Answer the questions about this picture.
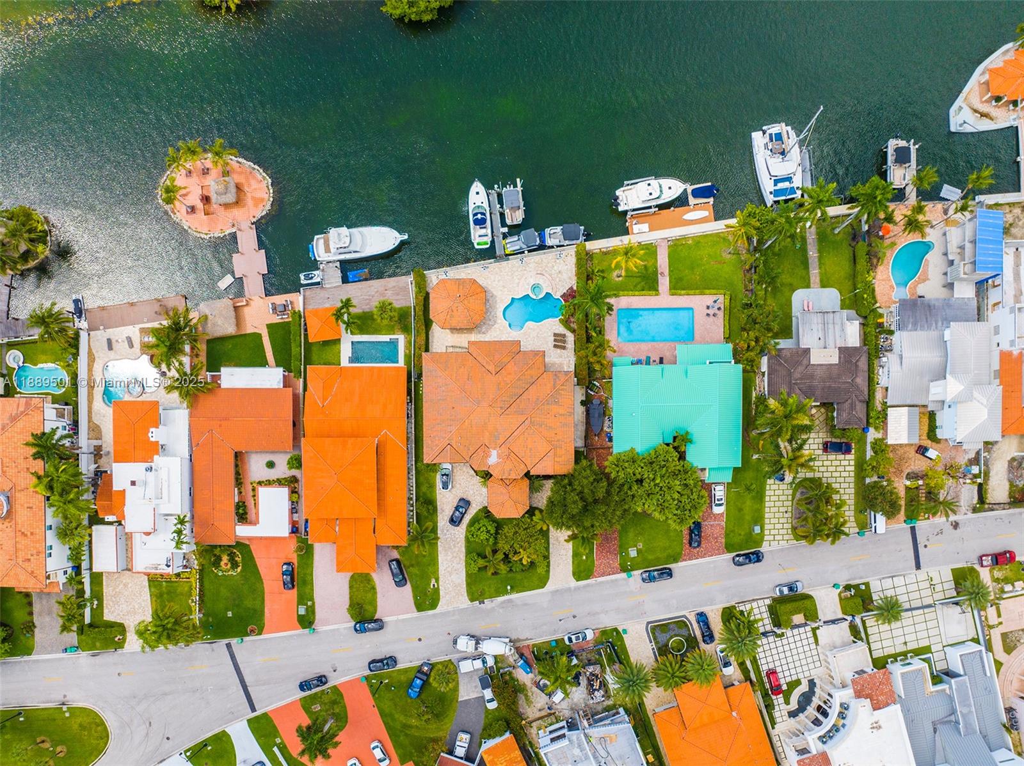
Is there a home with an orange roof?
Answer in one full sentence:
Yes, you can see a home with an orange roof in this photo.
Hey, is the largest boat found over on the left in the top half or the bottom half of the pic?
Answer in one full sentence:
Seen from above, the largest boat found over on the left lies in the top half of the view.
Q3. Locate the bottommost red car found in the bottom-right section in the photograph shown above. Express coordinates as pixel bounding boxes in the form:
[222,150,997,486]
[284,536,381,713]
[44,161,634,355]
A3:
[766,670,784,699]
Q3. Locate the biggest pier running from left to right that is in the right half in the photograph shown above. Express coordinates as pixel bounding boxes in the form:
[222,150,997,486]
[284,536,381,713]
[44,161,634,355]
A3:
[625,201,715,235]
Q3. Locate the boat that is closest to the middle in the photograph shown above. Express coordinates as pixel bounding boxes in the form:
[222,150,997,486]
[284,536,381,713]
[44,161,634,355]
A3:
[588,396,604,441]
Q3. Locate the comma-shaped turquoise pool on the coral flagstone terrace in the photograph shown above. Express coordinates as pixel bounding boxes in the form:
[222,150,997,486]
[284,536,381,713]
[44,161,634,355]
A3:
[888,239,935,301]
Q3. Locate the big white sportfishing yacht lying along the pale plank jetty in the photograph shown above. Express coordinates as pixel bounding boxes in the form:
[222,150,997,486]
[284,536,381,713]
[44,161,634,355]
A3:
[311,225,403,260]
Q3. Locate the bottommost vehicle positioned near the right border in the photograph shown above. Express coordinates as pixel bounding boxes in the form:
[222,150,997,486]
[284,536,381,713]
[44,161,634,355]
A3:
[980,551,1020,568]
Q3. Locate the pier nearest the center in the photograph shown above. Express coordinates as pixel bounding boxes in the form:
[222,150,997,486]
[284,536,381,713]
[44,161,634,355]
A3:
[488,188,503,257]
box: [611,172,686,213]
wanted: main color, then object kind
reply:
white boat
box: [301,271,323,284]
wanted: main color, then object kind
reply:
white boat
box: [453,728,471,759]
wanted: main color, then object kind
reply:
white vehicle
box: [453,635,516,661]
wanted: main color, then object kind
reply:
white truck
